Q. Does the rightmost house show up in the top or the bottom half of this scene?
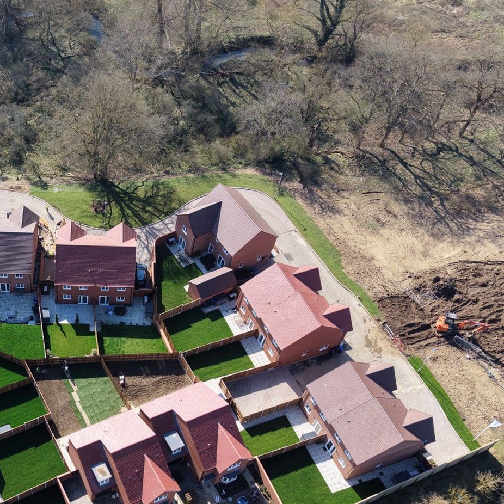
bottom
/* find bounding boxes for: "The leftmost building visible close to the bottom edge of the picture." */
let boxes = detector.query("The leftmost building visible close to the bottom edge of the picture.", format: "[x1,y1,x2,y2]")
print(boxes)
[68,409,181,504]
